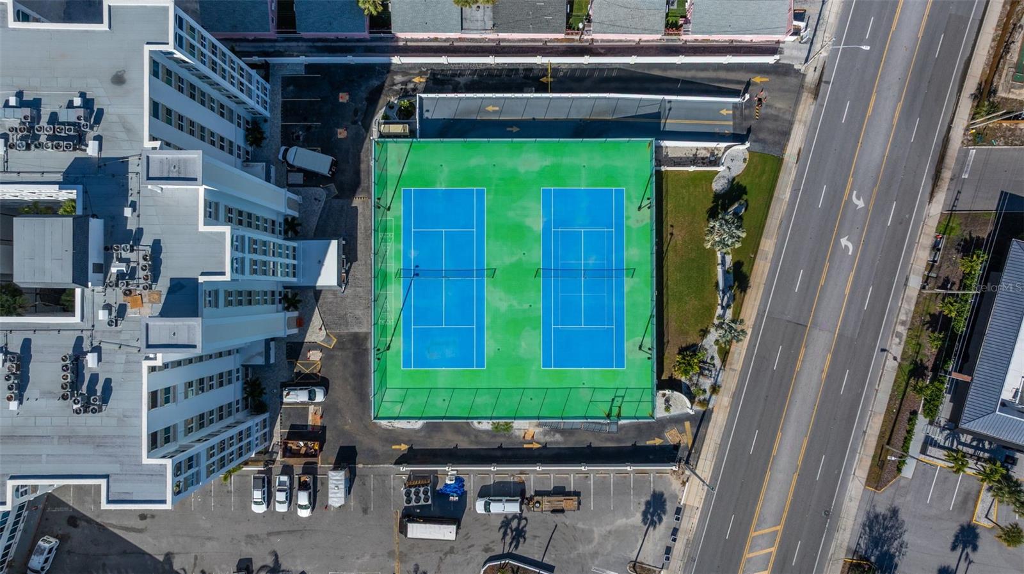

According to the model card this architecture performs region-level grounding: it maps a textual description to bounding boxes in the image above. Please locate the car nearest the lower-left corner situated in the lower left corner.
[31,536,60,573]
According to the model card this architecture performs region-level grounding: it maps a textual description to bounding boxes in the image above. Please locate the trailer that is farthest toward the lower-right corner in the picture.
[526,493,580,515]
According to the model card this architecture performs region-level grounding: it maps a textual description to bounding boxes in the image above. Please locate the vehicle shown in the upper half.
[285,145,344,178]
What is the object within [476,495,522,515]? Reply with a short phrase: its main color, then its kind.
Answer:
white vehicle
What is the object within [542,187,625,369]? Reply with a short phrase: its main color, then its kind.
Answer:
blue tennis court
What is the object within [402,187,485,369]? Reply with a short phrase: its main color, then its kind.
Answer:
blue tennis court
